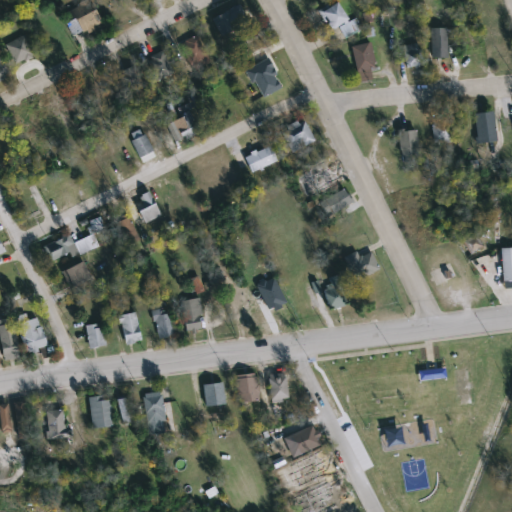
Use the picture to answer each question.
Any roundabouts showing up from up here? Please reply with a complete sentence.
No, there's no roundabout here.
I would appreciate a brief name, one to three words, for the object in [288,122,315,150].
house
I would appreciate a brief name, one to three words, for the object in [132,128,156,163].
house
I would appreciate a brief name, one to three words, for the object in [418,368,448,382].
building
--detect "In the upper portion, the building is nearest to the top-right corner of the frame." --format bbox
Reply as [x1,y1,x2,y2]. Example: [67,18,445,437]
[432,27,449,58]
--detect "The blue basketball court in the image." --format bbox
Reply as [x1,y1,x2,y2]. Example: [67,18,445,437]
[402,459,429,492]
